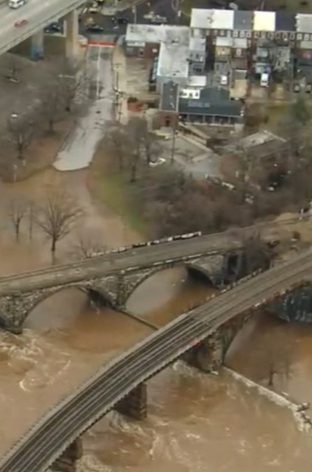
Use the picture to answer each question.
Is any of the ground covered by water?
Yes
